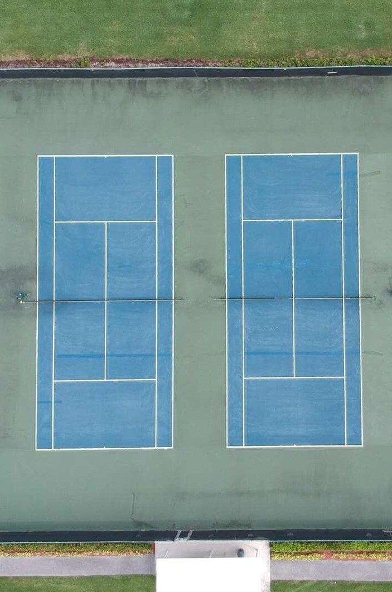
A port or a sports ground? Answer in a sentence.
It's a sports ground.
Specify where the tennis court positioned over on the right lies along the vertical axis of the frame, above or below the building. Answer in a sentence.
The position of the tennis court positioned over on the right is above the building.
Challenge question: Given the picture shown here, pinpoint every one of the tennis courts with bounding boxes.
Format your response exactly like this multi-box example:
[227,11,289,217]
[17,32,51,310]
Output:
[36,155,172,450]
[224,152,363,448]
